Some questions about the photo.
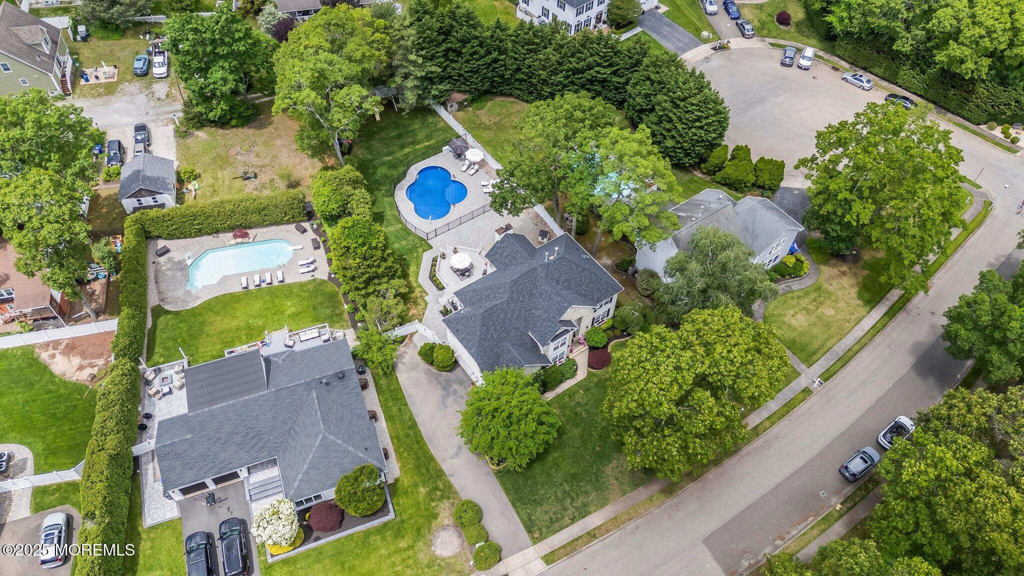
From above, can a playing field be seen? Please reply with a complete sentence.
No, no playing field is visible in the view.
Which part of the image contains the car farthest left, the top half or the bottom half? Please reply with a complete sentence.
The bottom half of the photo is where the car farthest left is.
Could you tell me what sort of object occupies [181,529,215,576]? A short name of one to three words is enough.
car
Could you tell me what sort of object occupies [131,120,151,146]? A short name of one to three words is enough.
vehicle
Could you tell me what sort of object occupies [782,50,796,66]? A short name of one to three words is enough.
car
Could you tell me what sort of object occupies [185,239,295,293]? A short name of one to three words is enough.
swimming pool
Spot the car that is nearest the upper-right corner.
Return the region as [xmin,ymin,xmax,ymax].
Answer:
[884,96,914,110]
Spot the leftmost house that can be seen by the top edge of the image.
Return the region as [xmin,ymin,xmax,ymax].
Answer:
[0,1,75,97]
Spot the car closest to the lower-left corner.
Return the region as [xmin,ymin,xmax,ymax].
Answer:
[37,512,70,571]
